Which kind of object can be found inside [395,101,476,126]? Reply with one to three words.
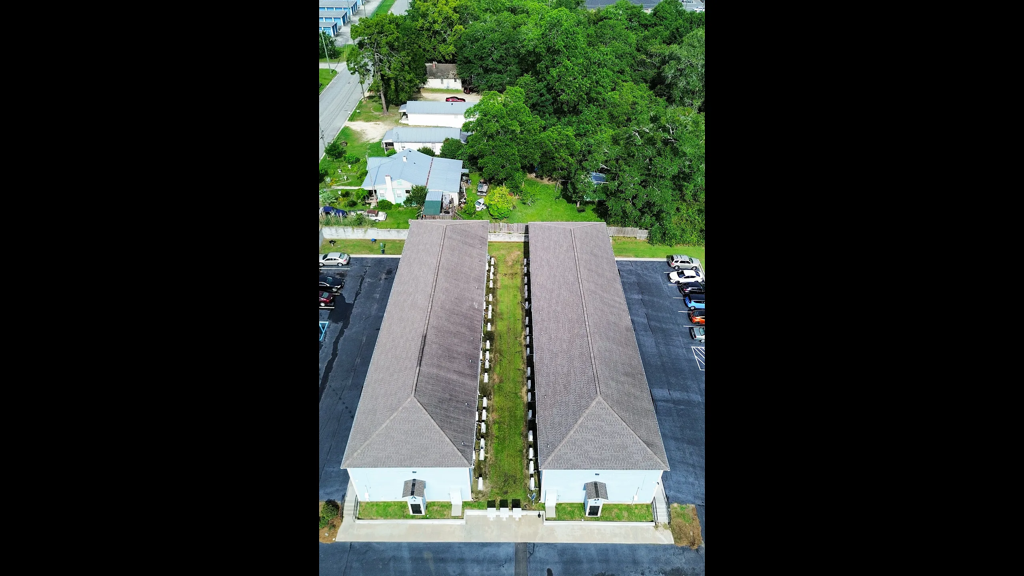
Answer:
house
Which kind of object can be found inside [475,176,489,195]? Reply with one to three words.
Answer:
car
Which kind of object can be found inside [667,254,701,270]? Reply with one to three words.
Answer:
car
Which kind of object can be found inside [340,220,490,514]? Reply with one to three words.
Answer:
building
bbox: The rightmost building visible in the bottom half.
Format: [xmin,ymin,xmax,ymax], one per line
[527,222,670,515]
